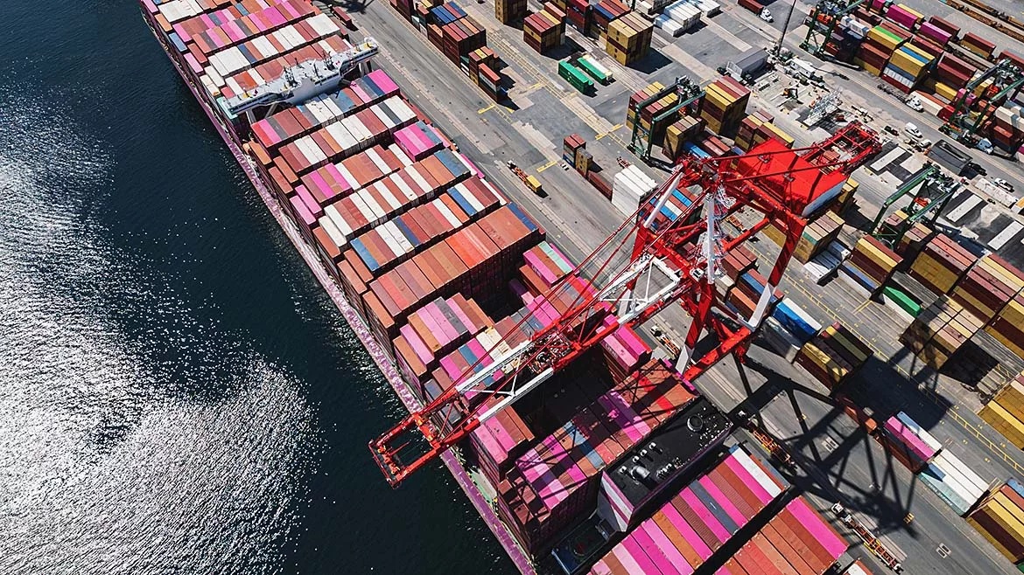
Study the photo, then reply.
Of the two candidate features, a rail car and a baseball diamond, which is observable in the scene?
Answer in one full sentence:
Of the two, only a rail car appears.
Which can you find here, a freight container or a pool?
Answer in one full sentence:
Of the two, only a freight container appears.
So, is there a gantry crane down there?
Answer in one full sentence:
Yes, looking at the shot, I can spot a gantry crane.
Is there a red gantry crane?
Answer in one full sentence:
Yes, there is a red gantry crane in the image.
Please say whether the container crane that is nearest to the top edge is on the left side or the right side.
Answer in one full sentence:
The container crane that is nearest to the top edge sits on the right side.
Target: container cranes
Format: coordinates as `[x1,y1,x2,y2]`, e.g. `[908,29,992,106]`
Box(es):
[628,80,705,159]
[801,0,872,56]
[939,64,1024,143]
[860,169,960,249]
[356,118,891,490]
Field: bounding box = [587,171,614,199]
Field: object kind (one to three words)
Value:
shipping container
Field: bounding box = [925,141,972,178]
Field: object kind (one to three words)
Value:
shed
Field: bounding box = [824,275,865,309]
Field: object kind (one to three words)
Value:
shipping container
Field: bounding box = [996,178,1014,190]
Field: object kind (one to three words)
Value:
vehicle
